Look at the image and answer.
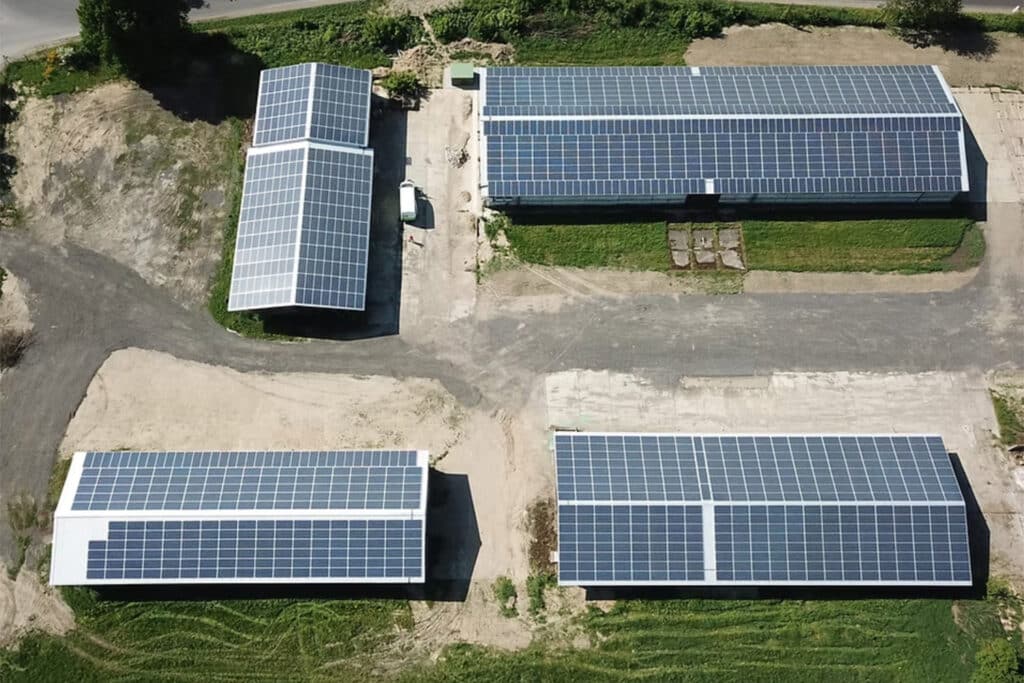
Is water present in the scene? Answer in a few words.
No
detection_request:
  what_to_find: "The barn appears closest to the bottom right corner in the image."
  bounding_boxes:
[551,432,972,587]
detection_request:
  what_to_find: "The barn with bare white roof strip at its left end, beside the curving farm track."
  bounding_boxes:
[49,450,429,586]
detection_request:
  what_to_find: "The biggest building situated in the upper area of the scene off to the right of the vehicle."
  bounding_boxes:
[480,65,970,211]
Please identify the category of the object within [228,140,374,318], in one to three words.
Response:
barn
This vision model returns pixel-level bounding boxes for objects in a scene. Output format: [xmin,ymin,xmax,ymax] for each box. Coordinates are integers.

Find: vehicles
[398,184,416,221]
